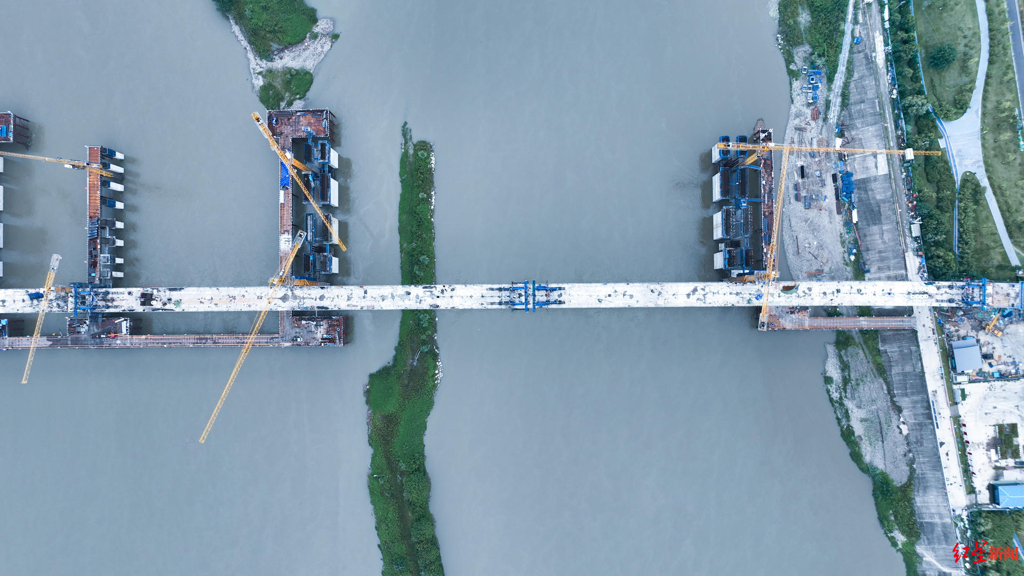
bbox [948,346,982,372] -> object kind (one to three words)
building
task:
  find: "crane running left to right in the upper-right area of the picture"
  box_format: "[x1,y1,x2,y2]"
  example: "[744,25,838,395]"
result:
[718,139,943,171]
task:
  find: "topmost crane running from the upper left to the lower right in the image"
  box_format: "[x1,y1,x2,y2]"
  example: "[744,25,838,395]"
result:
[248,111,347,251]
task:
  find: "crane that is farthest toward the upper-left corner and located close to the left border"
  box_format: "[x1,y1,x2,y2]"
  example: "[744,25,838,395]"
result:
[0,152,128,179]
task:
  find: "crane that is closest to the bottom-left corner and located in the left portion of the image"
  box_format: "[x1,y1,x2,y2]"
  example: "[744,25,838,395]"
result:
[21,254,134,384]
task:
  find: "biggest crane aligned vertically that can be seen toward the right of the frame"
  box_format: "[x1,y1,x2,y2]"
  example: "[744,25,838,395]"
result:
[723,152,788,330]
